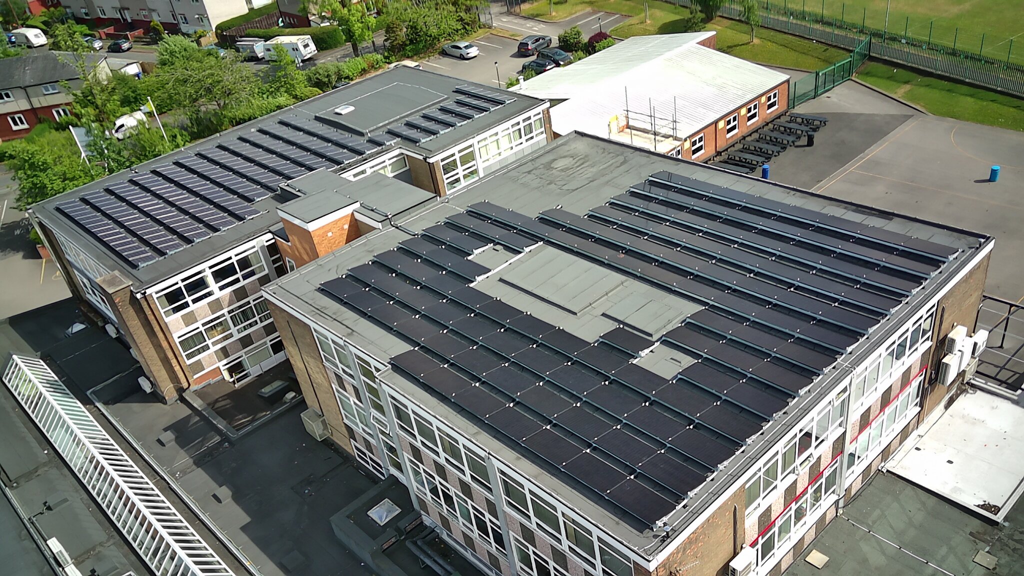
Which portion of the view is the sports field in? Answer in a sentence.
The sports field is in the top right part of the image.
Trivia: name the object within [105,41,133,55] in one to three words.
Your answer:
car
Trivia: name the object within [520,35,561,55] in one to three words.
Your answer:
car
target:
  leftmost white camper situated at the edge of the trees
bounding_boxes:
[7,25,42,47]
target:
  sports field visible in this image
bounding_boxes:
[729,0,1024,70]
